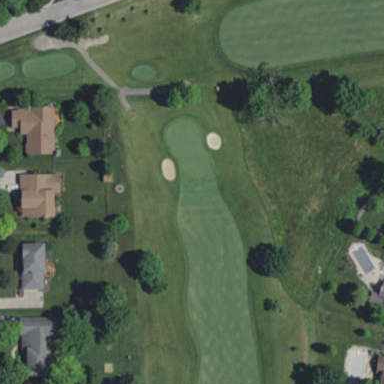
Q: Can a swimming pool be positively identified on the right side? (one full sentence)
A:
Yes, a swimming pool can be seen on the right side.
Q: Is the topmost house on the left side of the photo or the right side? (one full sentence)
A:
The topmost house appears in the left half of the scene.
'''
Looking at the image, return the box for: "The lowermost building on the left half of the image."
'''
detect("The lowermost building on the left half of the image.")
[20,318,52,380]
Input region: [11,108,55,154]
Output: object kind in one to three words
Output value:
house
